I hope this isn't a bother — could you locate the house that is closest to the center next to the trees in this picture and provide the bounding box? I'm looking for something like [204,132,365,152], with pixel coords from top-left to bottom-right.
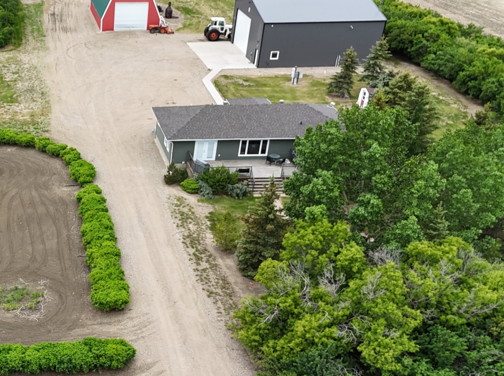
[149,96,339,167]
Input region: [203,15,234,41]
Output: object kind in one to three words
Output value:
work vehicle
